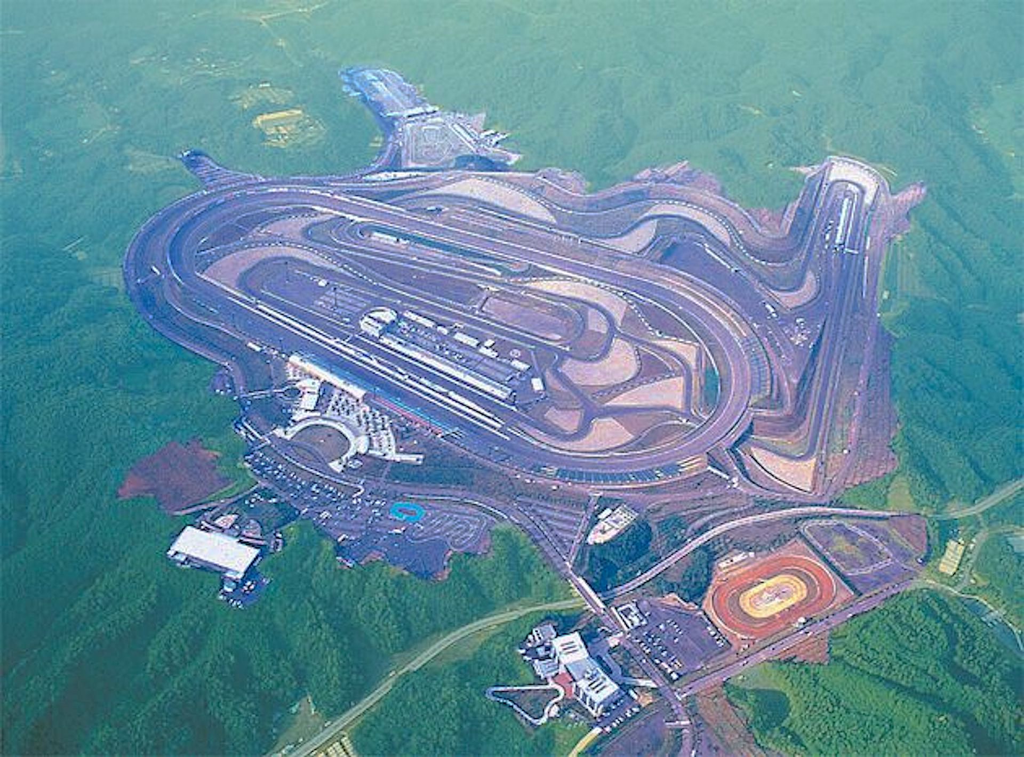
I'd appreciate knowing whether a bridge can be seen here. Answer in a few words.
Yes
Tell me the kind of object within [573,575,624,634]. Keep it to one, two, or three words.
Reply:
bridge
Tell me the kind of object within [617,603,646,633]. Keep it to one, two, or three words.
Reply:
building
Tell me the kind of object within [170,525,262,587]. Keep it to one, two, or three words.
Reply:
building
